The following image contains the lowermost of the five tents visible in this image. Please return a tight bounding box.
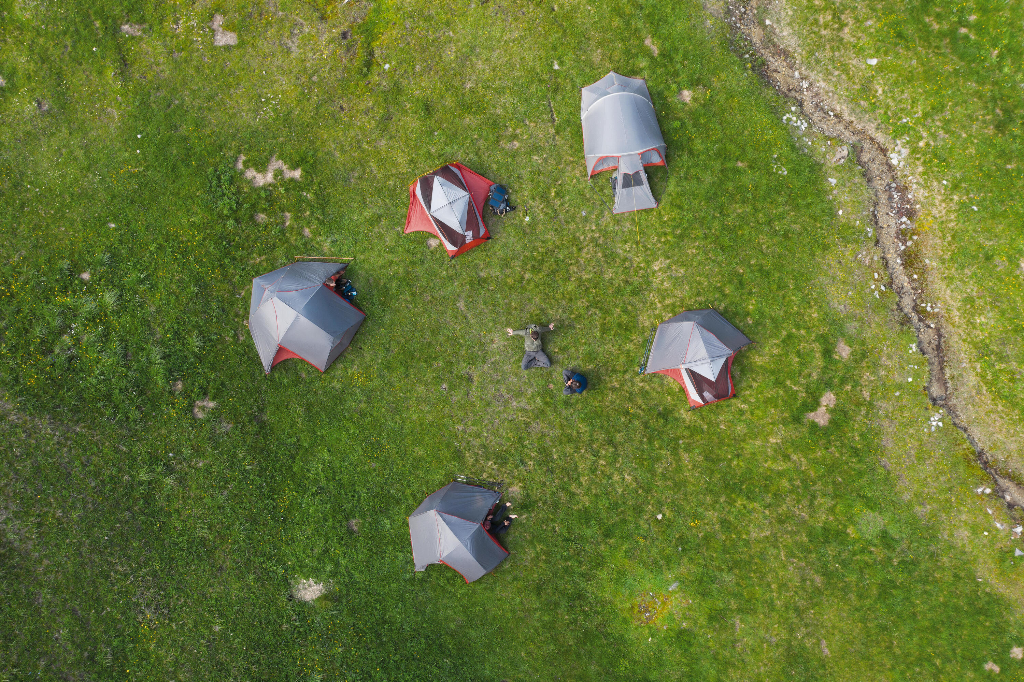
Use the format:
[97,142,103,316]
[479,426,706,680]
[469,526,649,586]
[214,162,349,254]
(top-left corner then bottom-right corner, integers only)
[406,479,513,584]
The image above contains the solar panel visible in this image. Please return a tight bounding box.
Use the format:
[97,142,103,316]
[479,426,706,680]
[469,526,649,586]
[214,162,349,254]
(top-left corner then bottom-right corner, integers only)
[489,186,507,208]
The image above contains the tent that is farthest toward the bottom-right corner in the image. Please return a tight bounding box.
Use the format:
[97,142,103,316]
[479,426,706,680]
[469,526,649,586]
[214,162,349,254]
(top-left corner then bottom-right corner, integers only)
[643,304,755,415]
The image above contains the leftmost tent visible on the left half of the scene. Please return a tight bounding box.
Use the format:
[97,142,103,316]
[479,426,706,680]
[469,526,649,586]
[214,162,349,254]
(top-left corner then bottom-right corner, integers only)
[246,258,369,378]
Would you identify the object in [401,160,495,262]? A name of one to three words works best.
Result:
tent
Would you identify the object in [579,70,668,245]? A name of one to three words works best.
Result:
tent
